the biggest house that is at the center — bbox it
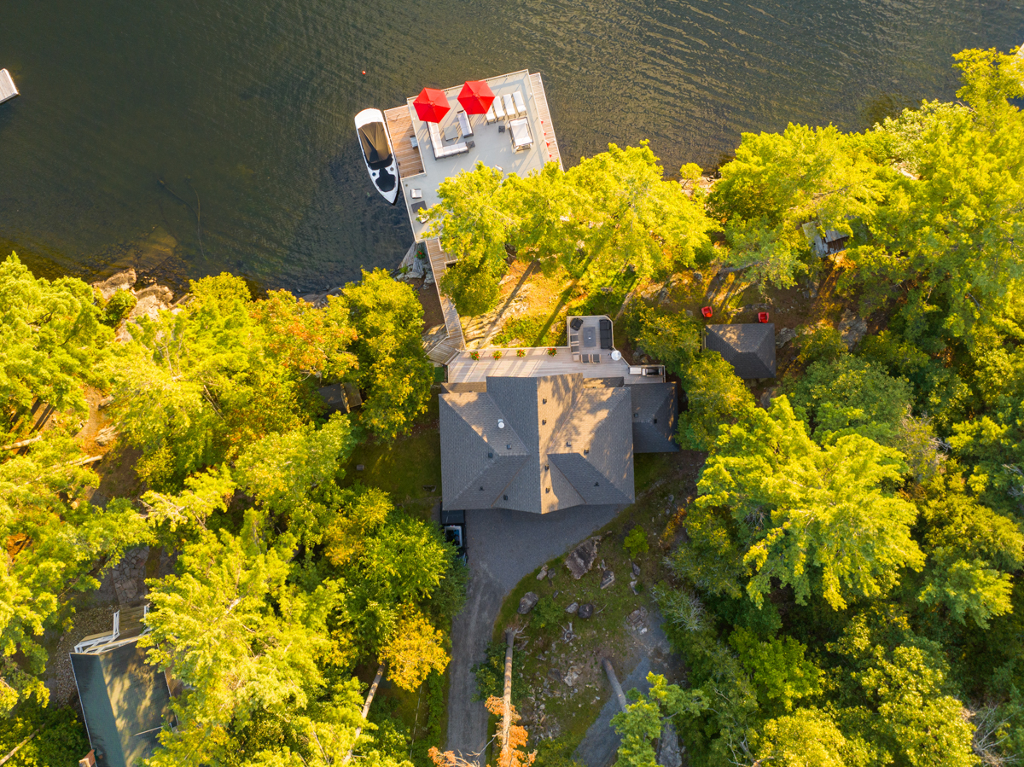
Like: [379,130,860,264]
[438,374,635,517]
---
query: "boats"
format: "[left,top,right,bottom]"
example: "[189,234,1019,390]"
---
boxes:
[357,107,401,205]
